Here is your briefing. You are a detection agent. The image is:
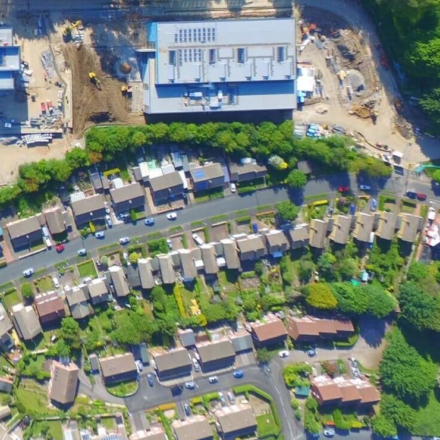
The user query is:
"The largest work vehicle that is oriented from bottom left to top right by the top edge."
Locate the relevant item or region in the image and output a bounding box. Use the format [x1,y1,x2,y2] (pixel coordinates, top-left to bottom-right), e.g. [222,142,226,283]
[62,17,83,37]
